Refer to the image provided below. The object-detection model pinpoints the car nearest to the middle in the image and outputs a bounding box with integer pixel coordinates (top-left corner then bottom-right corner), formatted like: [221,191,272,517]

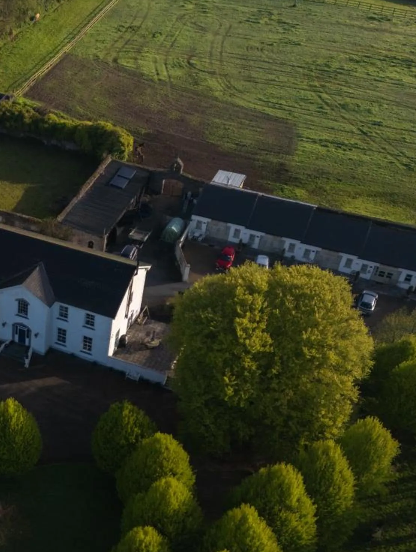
[216,243,237,268]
